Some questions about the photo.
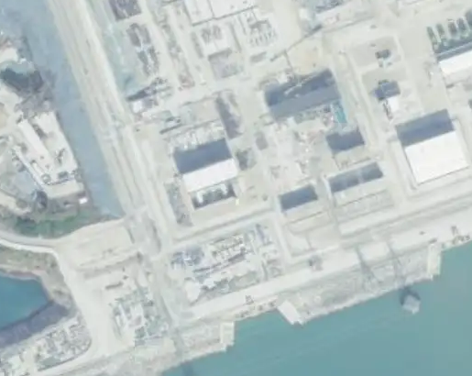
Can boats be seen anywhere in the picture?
No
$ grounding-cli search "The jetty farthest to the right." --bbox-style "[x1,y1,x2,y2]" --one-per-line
[429,248,442,279]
